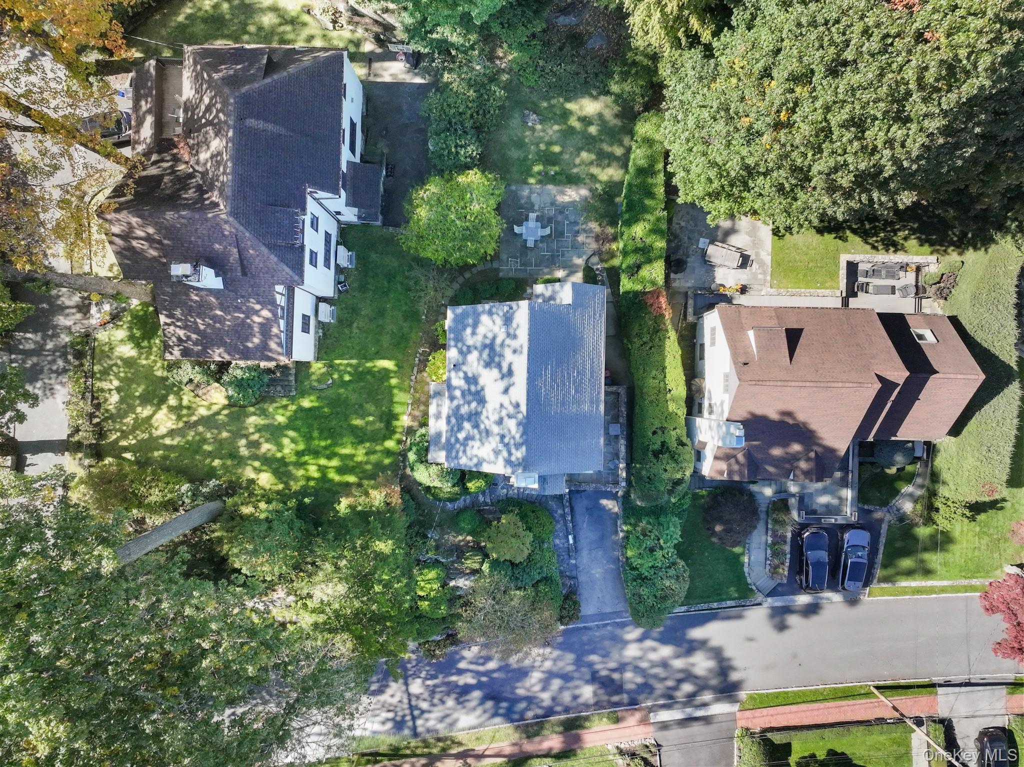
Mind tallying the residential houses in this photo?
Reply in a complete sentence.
The count of residential houses comes to 3.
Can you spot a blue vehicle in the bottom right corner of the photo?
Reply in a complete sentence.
Yes, a blue vehicle appears in the bottom right corner of the photo.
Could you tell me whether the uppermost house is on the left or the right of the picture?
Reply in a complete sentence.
The uppermost house sits on the left side.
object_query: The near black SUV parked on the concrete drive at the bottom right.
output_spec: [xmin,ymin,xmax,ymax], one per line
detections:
[969,726,1010,767]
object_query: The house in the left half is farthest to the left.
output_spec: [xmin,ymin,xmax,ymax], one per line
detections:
[99,44,388,360]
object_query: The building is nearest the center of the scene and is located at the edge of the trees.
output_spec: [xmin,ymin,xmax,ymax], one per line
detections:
[429,283,607,495]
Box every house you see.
[99,44,388,360]
[686,304,984,484]
[429,283,607,495]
